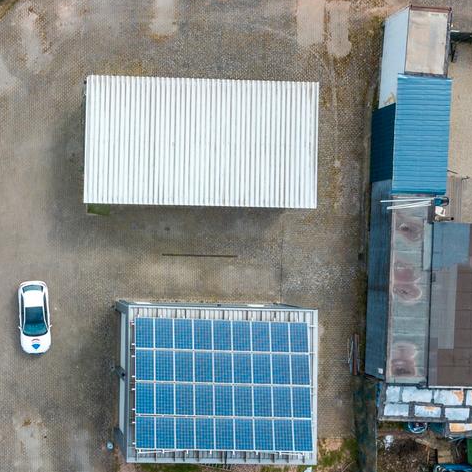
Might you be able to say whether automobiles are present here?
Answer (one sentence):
Yes, you can see an automobile in this photo.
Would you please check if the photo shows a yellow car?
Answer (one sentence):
No, the picture doesn't show any yellow car.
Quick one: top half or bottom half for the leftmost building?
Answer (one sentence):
The leftmost building is in the bottom half of the image.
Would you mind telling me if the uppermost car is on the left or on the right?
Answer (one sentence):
The uppermost car is on the left side of the image.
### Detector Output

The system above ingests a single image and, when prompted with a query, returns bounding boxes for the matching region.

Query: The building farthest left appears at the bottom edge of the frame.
[114,297,318,464]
